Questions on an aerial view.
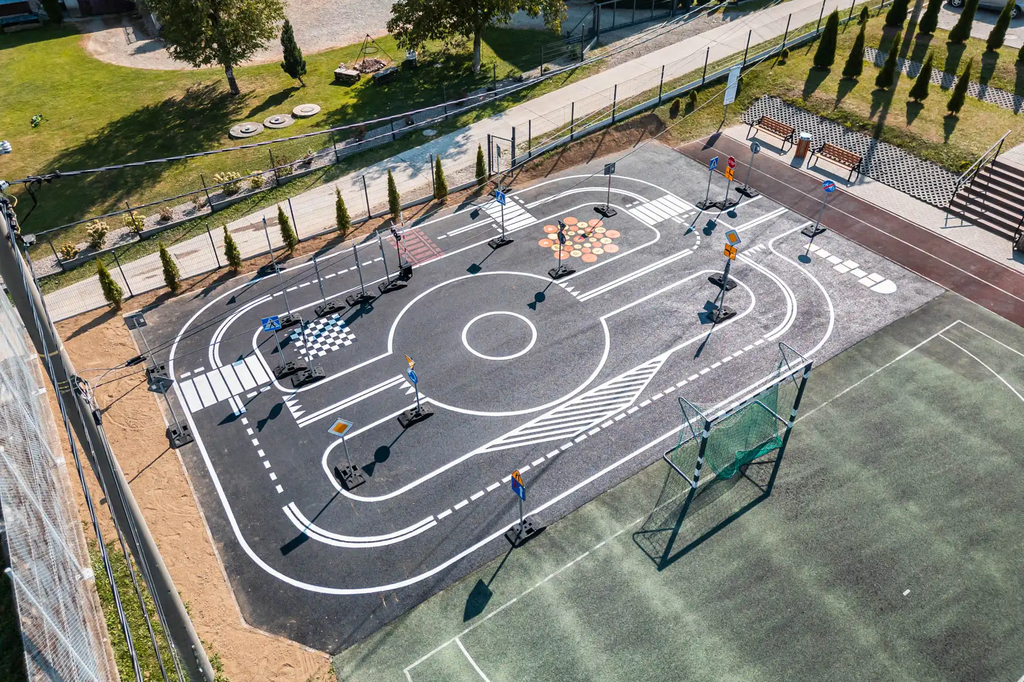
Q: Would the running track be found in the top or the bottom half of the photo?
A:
top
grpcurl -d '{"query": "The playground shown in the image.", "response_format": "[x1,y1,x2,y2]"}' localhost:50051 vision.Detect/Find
[125,139,944,657]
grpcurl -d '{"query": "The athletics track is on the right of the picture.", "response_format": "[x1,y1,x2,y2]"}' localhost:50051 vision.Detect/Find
[673,131,1024,327]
